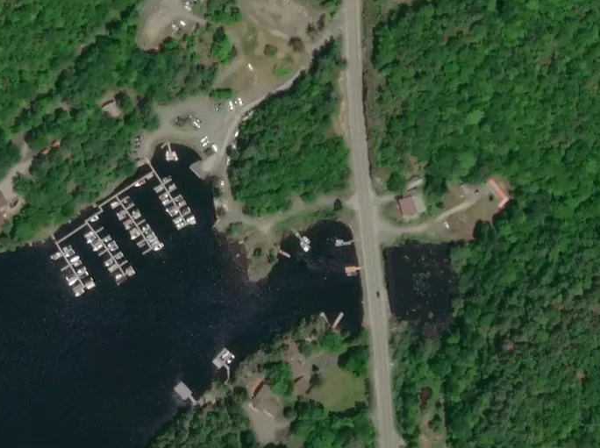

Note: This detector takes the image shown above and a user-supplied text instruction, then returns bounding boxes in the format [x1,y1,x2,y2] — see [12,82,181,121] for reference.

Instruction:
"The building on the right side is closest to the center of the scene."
[398,196,418,222]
